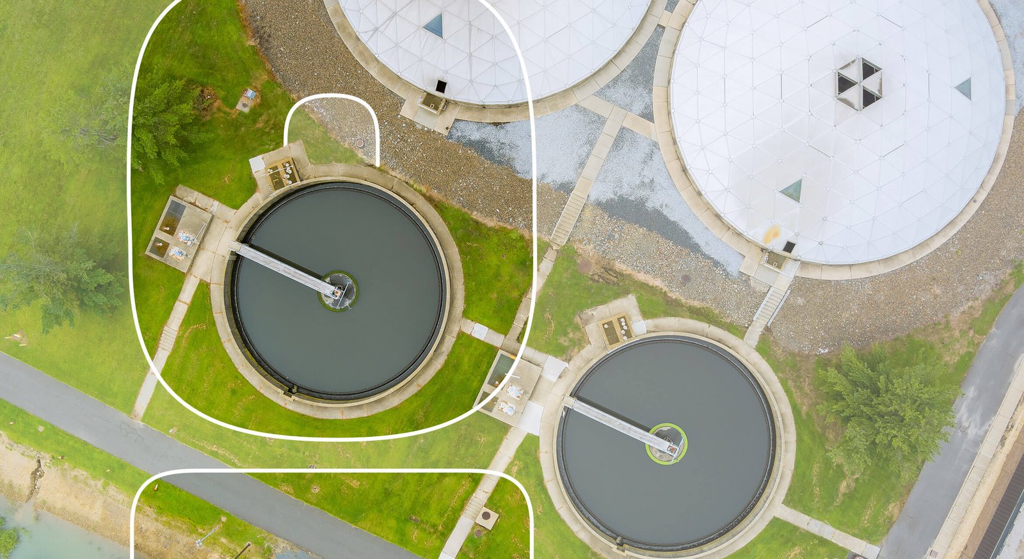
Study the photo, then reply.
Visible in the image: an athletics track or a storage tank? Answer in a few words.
storage tank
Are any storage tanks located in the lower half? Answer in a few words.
Yes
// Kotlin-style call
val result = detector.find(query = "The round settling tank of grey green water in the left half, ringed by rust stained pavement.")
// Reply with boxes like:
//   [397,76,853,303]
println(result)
[223,177,451,405]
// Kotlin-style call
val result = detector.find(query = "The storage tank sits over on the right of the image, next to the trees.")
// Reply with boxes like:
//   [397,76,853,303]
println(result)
[554,332,782,559]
